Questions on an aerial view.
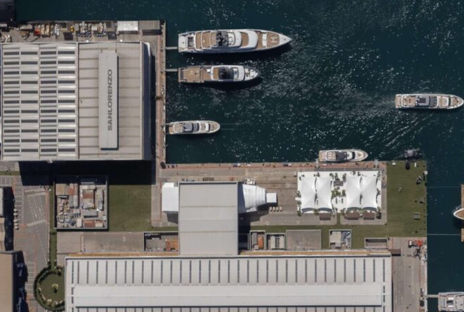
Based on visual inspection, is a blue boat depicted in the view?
No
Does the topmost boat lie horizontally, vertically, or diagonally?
horizontally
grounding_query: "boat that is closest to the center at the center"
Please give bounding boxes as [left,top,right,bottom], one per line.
[170,120,220,133]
